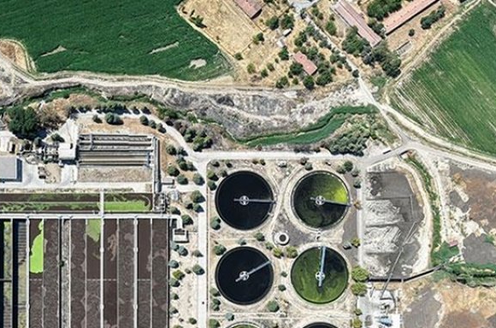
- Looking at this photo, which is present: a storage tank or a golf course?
storage tank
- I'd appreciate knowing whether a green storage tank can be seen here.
Yes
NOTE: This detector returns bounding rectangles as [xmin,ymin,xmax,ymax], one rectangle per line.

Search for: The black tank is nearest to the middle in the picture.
[215,171,278,230]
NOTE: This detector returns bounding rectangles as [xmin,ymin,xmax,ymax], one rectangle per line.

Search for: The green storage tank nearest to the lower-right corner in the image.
[291,245,350,303]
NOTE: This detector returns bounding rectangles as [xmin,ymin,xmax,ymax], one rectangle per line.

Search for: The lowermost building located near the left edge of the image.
[0,156,17,179]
